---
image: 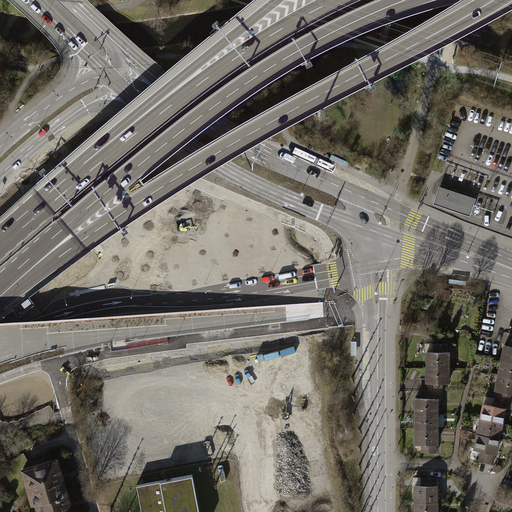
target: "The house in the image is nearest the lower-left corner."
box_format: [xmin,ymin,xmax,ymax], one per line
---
[18,458,72,512]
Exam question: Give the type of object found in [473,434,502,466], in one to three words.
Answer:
house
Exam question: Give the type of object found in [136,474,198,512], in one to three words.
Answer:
building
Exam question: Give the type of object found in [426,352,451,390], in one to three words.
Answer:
house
